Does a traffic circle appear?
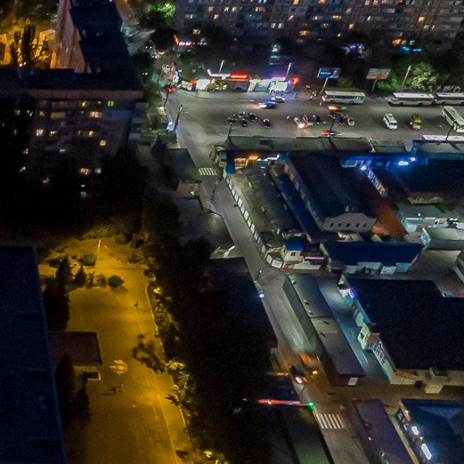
No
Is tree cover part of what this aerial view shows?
Yes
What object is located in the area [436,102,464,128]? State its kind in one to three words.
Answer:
bus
